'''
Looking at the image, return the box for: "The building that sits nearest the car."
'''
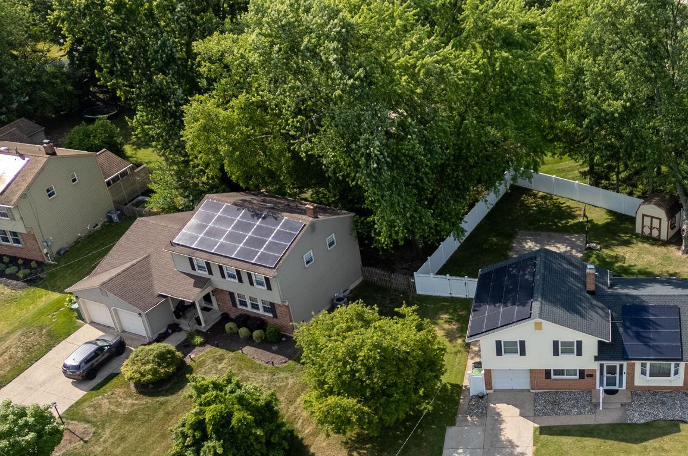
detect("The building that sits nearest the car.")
[60,196,365,342]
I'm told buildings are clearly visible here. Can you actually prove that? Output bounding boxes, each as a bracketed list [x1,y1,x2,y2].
[633,190,683,239]
[60,196,365,342]
[463,248,688,404]
[0,137,151,260]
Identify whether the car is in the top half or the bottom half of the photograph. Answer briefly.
bottom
